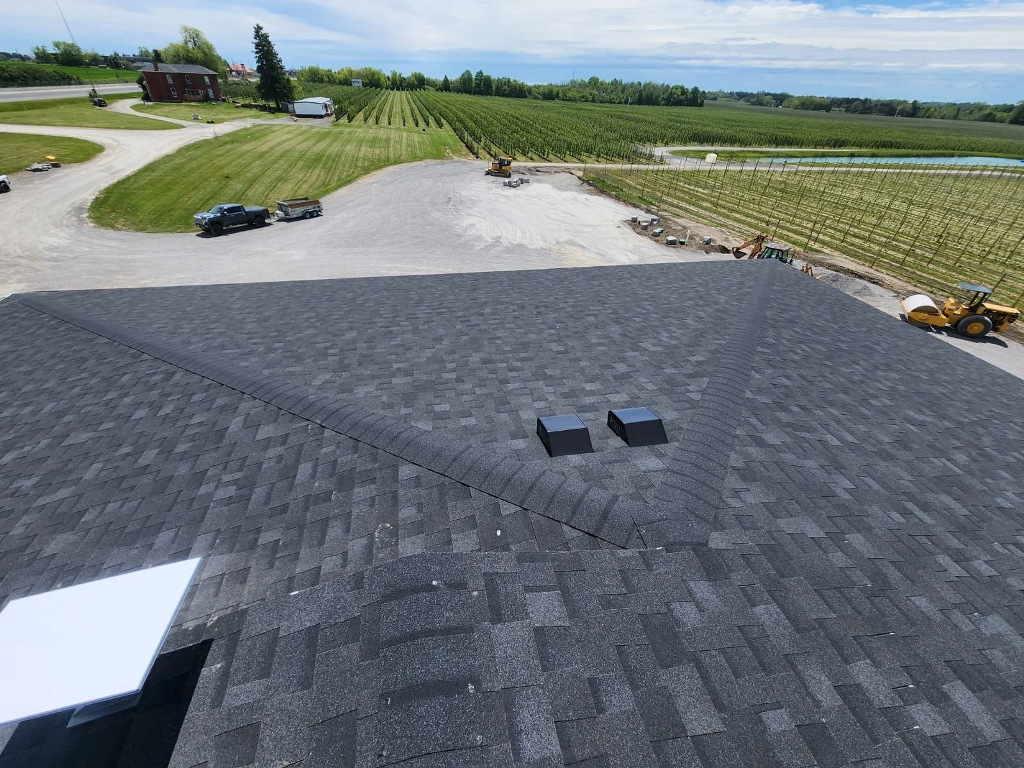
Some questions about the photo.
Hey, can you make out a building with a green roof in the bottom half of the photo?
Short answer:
No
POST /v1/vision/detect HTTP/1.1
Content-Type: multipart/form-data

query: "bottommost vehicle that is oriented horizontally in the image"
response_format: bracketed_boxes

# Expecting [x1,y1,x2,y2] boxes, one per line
[901,290,1024,338]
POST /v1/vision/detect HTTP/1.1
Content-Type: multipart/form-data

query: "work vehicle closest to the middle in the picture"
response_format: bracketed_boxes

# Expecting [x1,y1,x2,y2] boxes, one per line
[486,160,512,178]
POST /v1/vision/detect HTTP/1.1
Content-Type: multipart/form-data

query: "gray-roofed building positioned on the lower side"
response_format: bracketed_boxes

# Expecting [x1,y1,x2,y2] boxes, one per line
[0,258,1024,768]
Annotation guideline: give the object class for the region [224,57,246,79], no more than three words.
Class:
building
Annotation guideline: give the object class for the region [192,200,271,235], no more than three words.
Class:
truck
